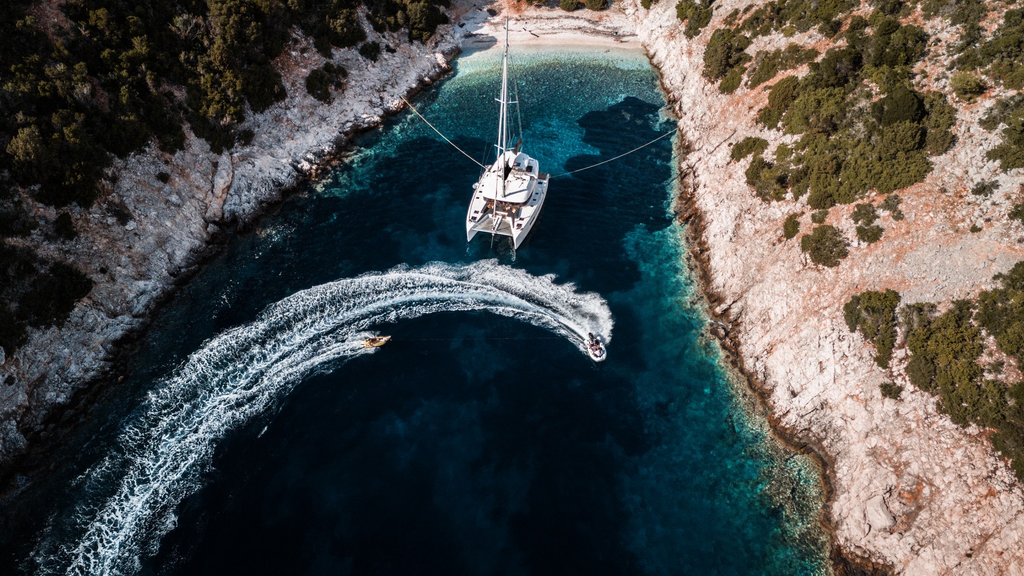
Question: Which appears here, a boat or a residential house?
boat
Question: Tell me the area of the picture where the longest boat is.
top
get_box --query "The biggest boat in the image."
[468,17,550,287]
